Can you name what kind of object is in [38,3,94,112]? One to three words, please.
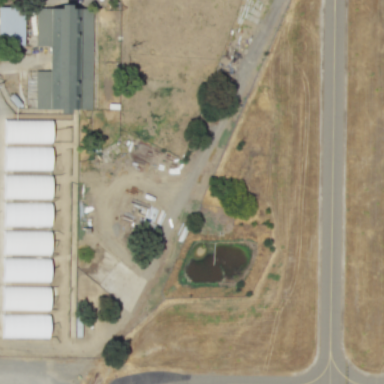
barn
